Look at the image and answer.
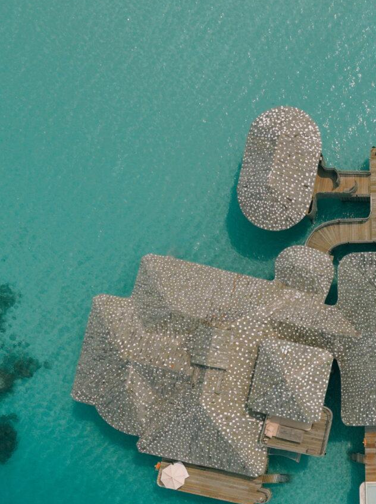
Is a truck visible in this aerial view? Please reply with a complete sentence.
No, the scene contains no truck.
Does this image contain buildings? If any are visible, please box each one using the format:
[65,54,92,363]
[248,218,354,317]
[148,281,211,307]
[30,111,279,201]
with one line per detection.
[73,252,362,479]
[237,107,321,231]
